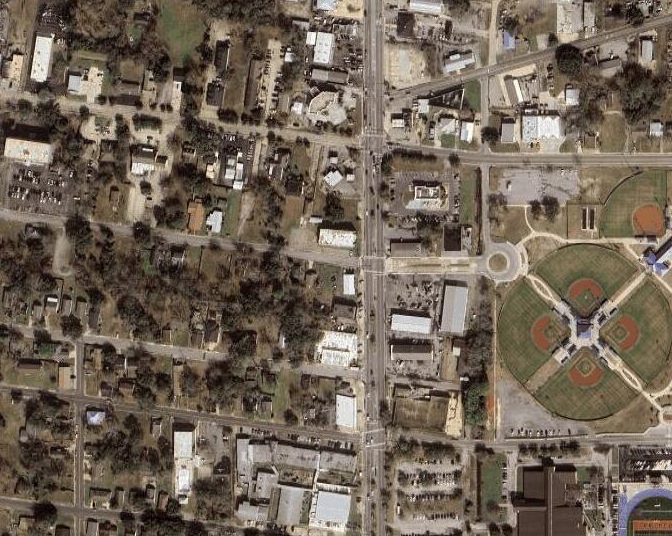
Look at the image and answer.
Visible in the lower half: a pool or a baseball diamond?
baseball diamond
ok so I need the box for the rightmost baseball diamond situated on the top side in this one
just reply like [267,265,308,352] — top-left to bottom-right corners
[601,170,666,237]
